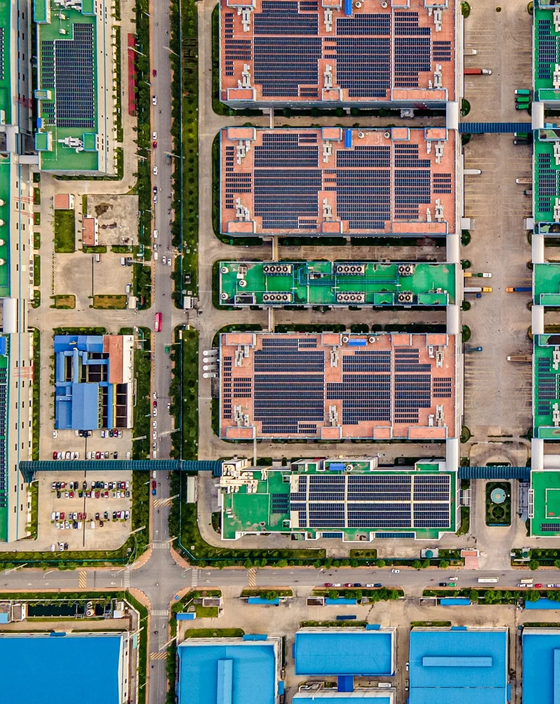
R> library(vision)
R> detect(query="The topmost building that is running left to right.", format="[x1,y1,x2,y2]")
[216,0,475,110]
